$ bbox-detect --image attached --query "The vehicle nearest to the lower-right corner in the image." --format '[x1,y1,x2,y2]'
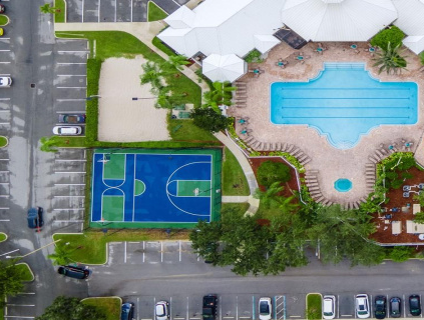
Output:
[407,294,421,316]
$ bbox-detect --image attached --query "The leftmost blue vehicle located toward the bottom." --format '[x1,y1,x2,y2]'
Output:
[26,207,44,229]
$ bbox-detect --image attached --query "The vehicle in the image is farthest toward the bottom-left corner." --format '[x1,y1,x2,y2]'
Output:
[56,264,92,280]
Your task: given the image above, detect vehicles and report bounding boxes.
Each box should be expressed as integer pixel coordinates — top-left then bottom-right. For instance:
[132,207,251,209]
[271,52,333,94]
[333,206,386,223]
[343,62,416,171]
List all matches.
[57,114,84,124]
[258,297,272,320]
[321,295,336,319]
[26,207,44,229]
[52,126,83,136]
[121,302,136,320]
[389,297,402,318]
[56,264,92,280]
[0,5,6,14]
[0,76,15,86]
[407,294,421,316]
[355,295,369,318]
[155,300,170,320]
[372,295,387,319]
[201,294,218,320]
